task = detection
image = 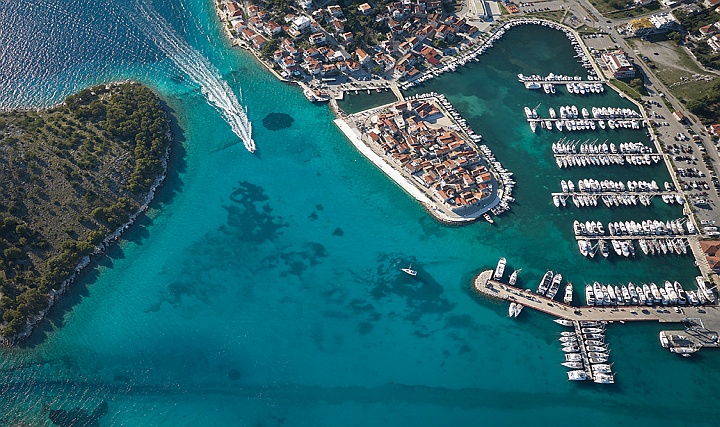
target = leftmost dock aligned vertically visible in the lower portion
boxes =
[574,321,593,380]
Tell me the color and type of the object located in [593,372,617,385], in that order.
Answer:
white boat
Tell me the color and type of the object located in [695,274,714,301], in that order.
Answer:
white boat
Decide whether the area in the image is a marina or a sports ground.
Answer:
marina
